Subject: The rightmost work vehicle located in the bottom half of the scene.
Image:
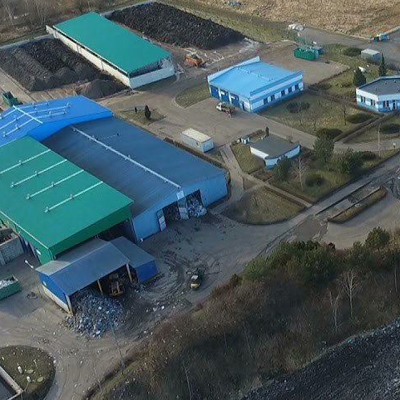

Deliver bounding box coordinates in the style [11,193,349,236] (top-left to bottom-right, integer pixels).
[185,268,203,294]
